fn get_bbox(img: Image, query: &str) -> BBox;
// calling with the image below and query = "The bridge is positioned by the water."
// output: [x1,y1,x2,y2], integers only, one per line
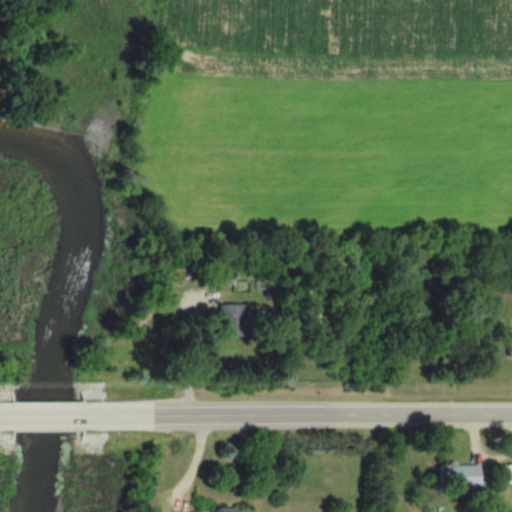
[6,388,88,445]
